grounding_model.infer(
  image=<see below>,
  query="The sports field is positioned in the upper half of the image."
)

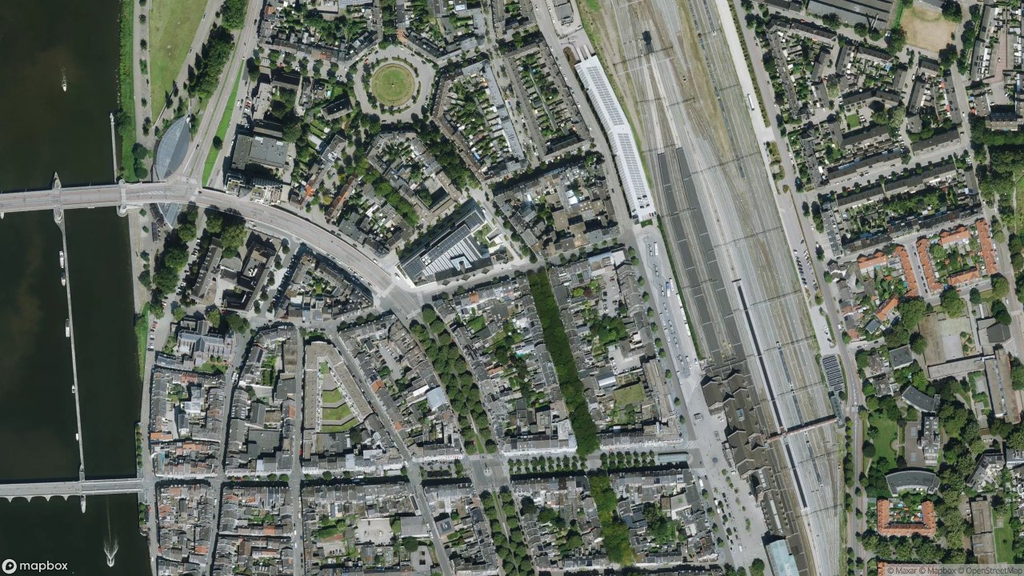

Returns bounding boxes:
[902,5,958,53]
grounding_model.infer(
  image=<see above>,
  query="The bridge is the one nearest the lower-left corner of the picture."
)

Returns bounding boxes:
[0,467,143,516]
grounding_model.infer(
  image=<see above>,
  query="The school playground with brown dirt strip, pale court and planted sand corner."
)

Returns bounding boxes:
[919,312,976,367]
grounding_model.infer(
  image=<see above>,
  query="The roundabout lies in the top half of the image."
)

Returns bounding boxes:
[365,56,420,114]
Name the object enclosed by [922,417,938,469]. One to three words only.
house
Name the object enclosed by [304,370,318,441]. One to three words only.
building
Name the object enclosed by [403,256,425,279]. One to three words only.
solar panel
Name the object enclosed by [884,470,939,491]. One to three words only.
building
